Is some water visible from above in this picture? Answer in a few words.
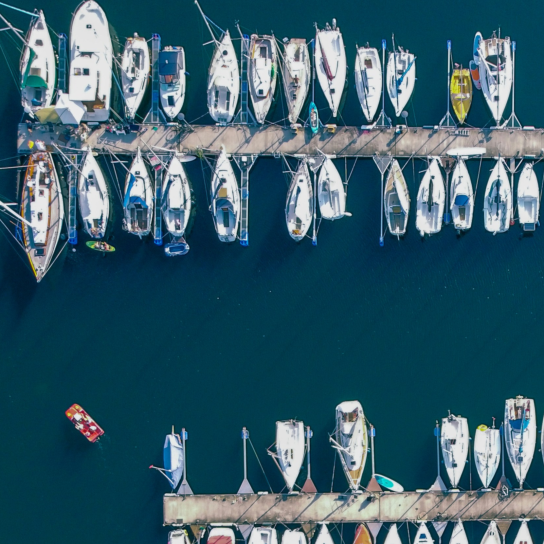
Yes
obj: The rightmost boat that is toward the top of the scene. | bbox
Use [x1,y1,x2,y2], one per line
[512,160,542,231]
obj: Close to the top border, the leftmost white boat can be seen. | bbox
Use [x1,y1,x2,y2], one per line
[0,7,61,123]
